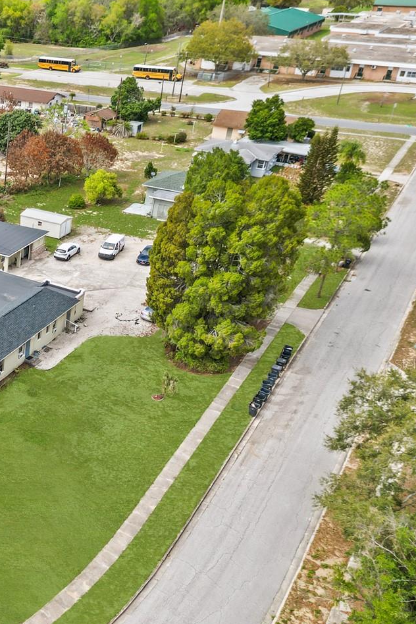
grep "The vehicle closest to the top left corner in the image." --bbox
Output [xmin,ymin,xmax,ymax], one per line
[39,57,78,73]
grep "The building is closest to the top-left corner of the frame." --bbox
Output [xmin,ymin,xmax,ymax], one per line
[0,80,69,109]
